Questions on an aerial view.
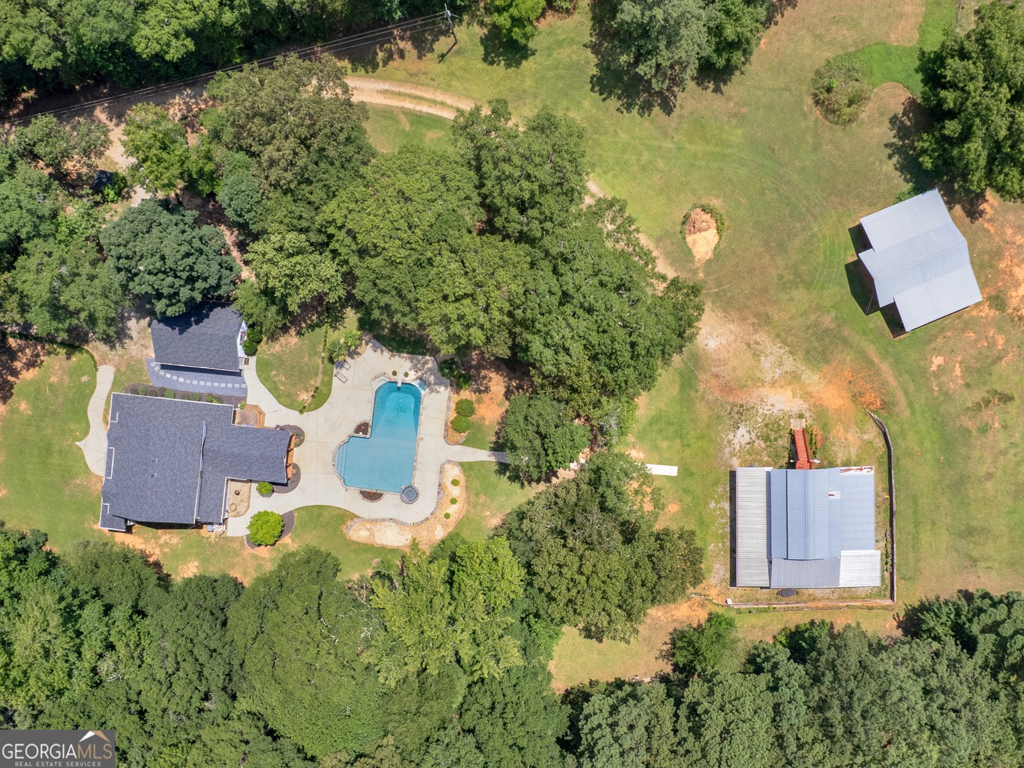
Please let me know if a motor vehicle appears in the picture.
No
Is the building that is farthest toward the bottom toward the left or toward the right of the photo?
right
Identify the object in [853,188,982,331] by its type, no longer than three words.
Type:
barn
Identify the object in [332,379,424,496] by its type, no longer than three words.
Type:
swimming pool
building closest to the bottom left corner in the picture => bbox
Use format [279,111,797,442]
[100,392,297,532]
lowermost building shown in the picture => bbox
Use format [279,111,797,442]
[733,466,882,589]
